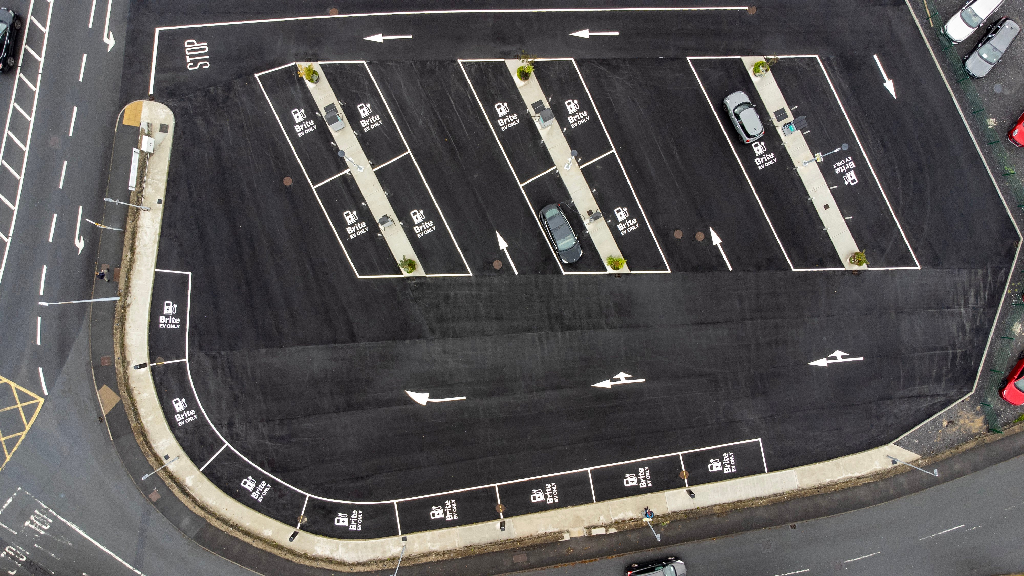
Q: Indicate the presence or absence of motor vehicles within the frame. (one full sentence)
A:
Yes, a motor vehicle is visible in the scene.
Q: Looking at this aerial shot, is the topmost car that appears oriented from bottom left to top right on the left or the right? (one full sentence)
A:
You can find the topmost car that appears oriented from bottom left to top right on the right side of the picture.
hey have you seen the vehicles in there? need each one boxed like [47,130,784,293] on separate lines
[963,17,1021,79]
[625,556,687,576]
[943,0,1006,44]
[0,8,22,72]
[1000,351,1024,402]
[541,201,583,265]
[1011,119,1024,149]
[723,90,766,144]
